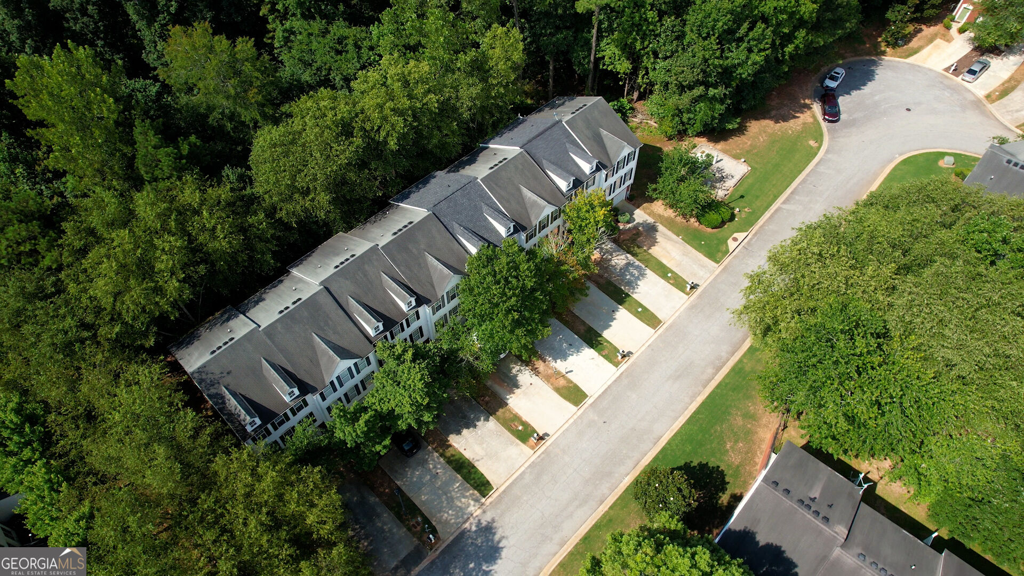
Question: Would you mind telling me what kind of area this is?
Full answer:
The picture captures a residential area.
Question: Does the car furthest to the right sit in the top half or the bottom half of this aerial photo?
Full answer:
Seen from above, the car furthest to the right lies in the top half of the view.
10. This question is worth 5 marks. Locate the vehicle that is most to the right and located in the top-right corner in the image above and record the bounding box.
[965,61,990,82]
